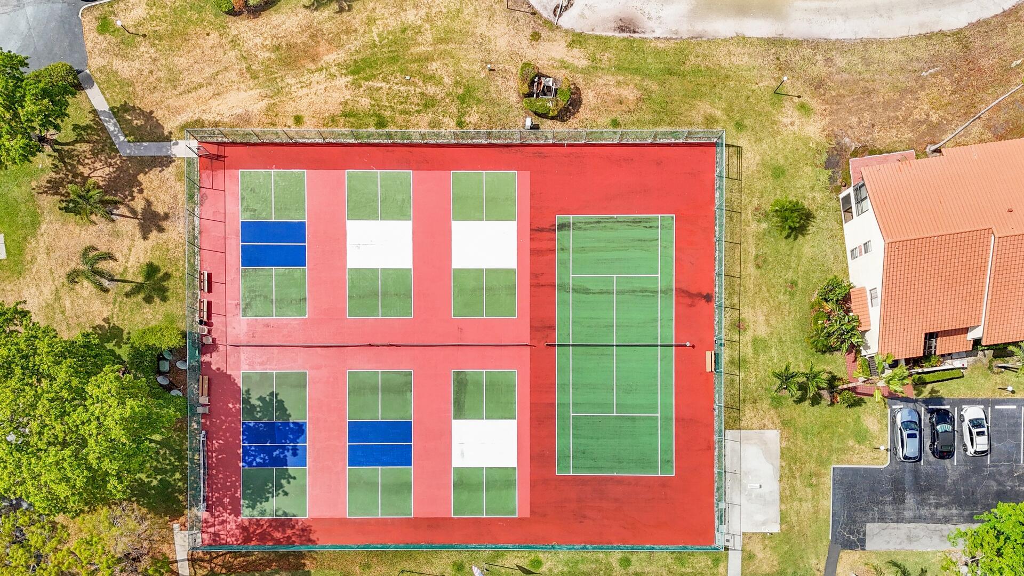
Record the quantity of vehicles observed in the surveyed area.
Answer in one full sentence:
The count of vehicles comes to 3.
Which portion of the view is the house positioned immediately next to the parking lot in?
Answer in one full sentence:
The house positioned immediately next to the parking lot is located in the right region of the scene.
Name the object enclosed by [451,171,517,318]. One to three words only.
sports court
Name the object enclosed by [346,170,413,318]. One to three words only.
sports court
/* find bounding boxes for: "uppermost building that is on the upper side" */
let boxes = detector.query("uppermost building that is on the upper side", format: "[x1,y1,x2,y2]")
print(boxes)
[534,75,555,99]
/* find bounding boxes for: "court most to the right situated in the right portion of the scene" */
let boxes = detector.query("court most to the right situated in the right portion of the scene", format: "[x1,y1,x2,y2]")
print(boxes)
[556,214,675,476]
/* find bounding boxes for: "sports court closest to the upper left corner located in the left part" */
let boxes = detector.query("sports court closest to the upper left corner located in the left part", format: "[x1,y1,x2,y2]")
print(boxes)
[239,170,307,318]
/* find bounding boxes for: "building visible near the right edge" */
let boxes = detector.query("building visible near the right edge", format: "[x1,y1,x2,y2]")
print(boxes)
[840,137,1024,366]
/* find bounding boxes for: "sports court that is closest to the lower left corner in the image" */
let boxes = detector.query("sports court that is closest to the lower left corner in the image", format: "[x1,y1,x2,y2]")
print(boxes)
[241,371,308,518]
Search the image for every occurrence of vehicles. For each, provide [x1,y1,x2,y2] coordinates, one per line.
[963,406,993,457]
[931,410,958,458]
[894,408,922,463]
